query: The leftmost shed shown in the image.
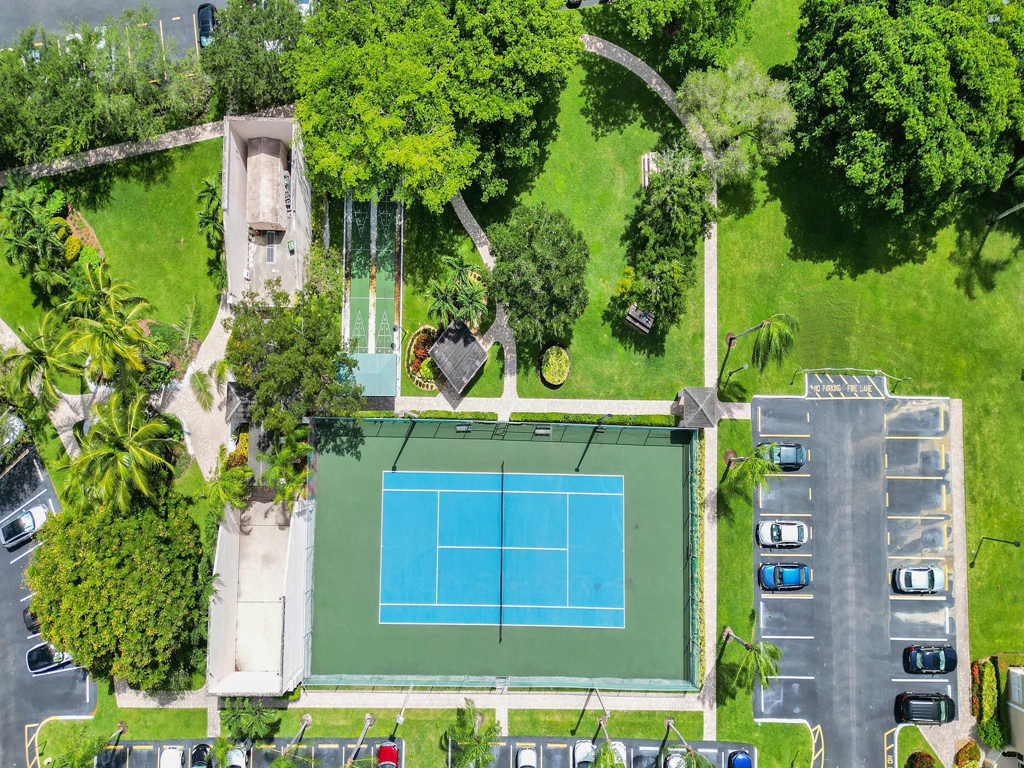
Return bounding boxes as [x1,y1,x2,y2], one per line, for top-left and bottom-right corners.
[247,137,286,229]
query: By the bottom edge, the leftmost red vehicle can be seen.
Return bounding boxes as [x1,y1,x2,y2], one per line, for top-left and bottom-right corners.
[376,740,399,768]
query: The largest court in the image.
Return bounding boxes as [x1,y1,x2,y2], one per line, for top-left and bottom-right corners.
[313,420,690,680]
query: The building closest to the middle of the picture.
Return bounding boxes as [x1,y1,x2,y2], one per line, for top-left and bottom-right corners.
[429,320,489,394]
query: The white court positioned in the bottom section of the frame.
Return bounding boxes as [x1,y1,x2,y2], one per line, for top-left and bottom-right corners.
[204,498,306,697]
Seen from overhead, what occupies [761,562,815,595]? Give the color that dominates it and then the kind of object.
blue car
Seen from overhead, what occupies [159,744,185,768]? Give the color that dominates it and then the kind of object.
white car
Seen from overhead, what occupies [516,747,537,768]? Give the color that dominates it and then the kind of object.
white car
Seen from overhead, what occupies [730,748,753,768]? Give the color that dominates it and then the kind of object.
blue car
